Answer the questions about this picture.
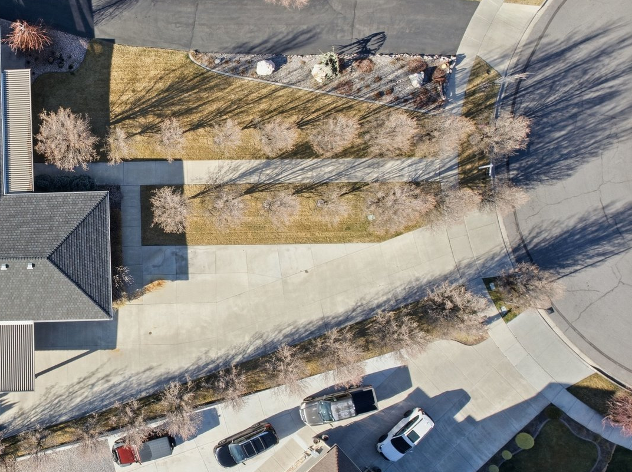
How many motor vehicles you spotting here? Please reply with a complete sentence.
Altogether the scene contains 4 motor vehicles.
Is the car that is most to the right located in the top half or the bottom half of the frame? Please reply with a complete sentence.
The bottom half of the photo is where the car that is most to the right is.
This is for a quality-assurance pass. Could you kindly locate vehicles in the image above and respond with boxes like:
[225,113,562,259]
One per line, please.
[112,433,173,467]
[211,420,282,465]
[296,382,381,425]
[376,405,436,460]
